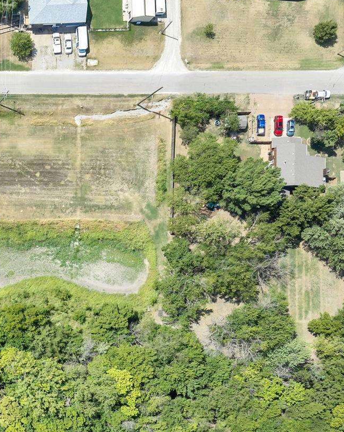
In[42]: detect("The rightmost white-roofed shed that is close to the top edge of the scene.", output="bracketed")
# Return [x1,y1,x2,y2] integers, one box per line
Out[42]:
[125,0,155,24]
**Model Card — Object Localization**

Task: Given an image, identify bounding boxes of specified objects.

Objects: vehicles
[76,23,90,57]
[62,34,73,55]
[52,33,62,56]
[303,89,330,100]
[254,114,267,137]
[284,118,295,136]
[272,115,285,137]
